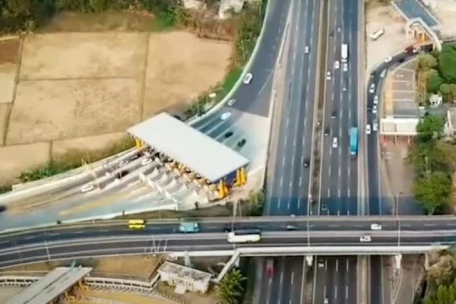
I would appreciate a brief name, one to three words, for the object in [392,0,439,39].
toll station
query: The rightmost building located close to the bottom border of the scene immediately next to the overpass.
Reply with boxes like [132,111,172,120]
[159,263,211,294]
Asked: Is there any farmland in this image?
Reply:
Yes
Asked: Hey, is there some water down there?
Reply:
No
